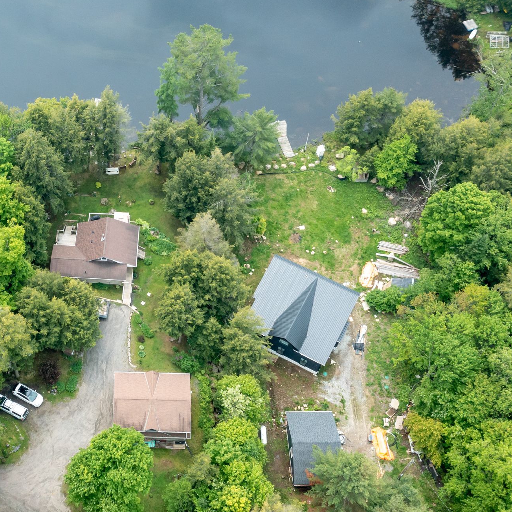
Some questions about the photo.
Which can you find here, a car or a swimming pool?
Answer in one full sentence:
Visible in the photo is a car.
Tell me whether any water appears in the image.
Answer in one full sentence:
Yes, water shows up in the scene.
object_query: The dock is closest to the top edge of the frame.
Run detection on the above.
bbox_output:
[275,120,295,159]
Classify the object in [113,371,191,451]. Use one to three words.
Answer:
building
